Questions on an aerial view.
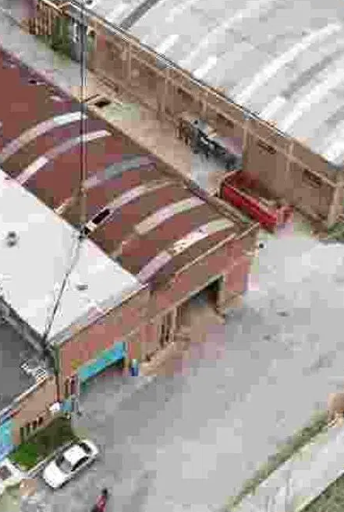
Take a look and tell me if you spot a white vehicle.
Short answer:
Yes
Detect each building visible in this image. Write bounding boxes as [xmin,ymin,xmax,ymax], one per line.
[62,0,344,233]
[0,43,258,419]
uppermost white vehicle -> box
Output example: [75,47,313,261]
[39,429,100,482]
